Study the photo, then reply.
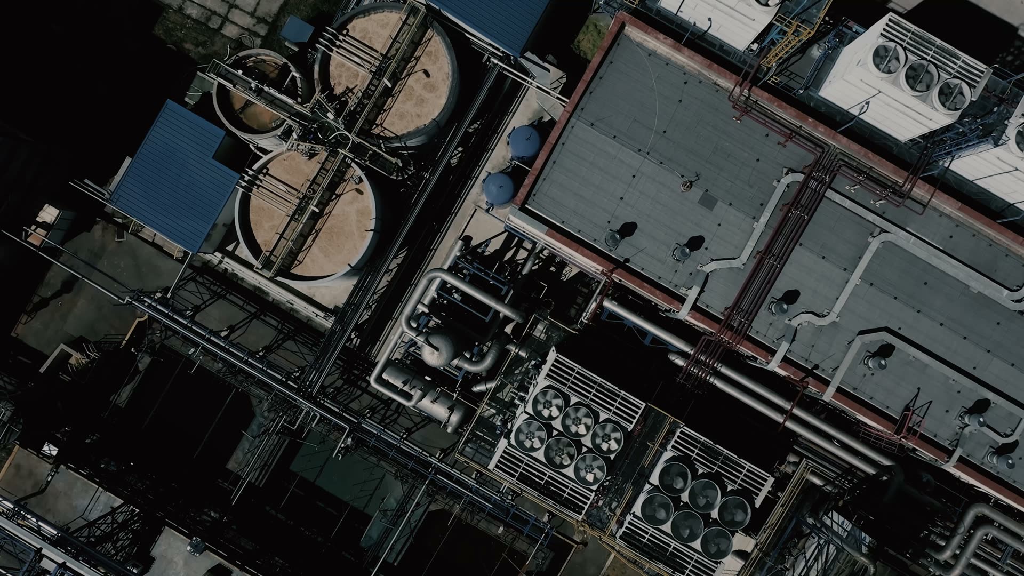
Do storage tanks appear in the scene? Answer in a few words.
Yes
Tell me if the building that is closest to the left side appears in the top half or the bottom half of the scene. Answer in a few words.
top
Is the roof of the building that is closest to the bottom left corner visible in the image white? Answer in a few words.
No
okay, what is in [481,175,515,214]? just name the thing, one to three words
storage tank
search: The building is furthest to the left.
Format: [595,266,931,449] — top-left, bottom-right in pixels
[0,130,69,227]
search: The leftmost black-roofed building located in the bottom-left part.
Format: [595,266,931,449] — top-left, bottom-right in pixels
[90,349,239,504]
